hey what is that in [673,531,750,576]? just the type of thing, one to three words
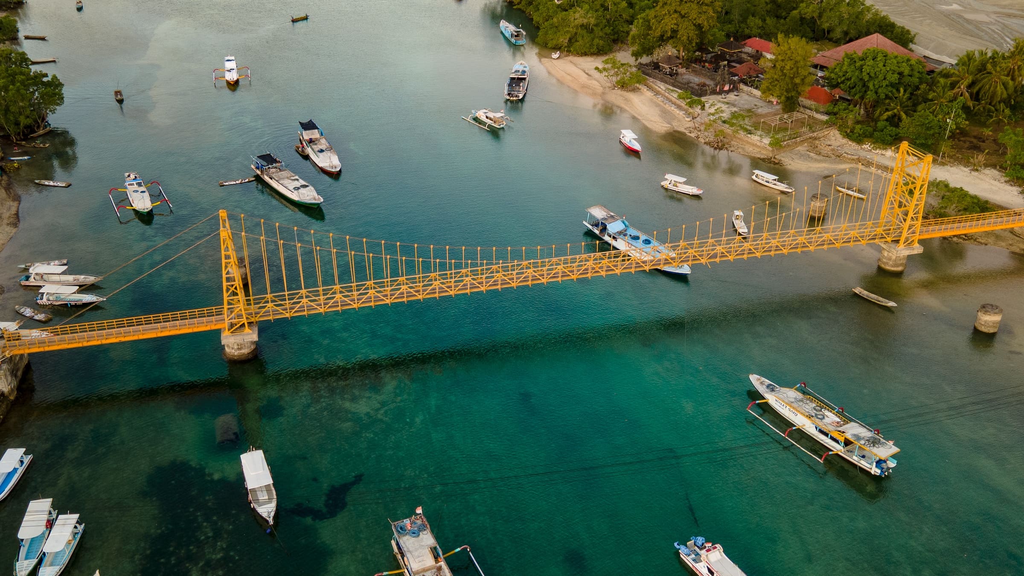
boat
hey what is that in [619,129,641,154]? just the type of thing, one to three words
boat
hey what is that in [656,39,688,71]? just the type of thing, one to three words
building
